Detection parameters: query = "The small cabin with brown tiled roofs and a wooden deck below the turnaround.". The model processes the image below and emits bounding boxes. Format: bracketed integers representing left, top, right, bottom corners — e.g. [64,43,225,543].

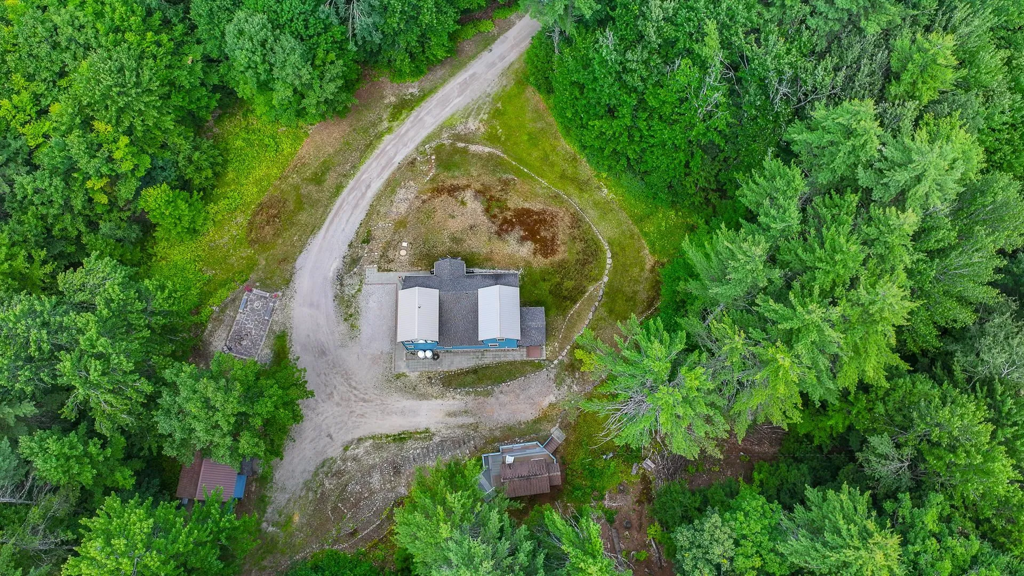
[479,427,565,501]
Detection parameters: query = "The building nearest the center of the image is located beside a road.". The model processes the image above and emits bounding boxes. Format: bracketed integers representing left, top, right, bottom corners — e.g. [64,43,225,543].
[395,256,546,351]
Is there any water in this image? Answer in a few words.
No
